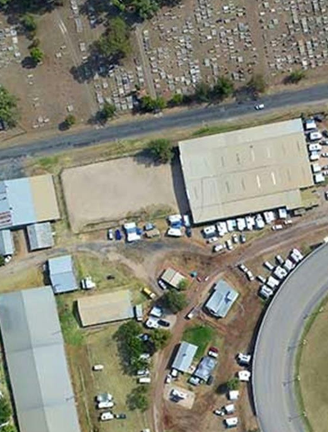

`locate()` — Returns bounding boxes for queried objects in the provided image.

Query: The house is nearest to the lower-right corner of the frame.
[193,354,219,382]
